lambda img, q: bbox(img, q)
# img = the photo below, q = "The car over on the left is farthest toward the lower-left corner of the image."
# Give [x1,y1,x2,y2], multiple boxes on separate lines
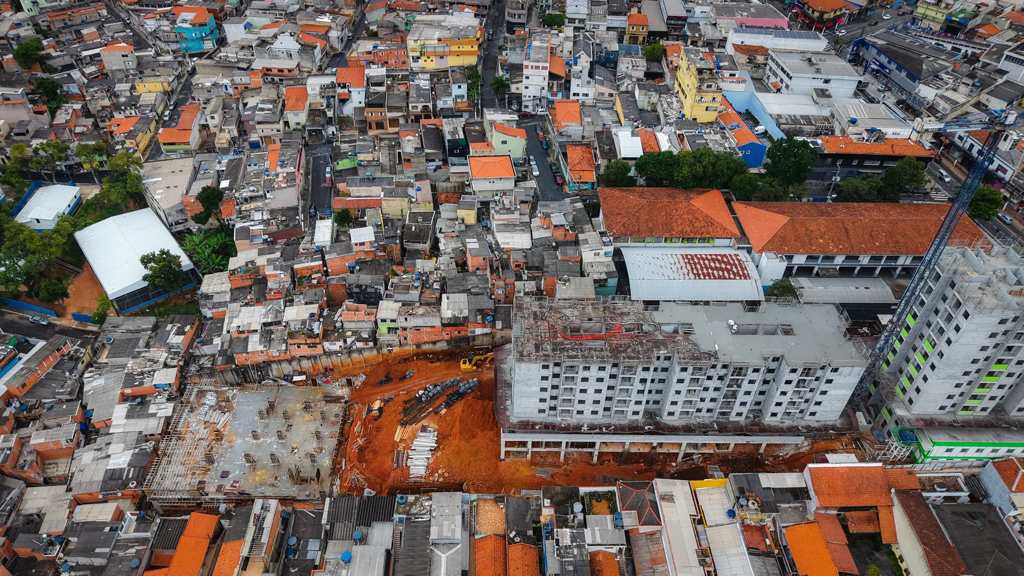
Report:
[24,312,51,325]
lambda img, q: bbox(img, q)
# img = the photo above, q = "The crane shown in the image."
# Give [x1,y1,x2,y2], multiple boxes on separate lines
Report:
[852,84,1024,415]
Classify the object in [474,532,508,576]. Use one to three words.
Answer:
house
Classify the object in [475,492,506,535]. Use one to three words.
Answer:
house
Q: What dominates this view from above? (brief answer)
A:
buildings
